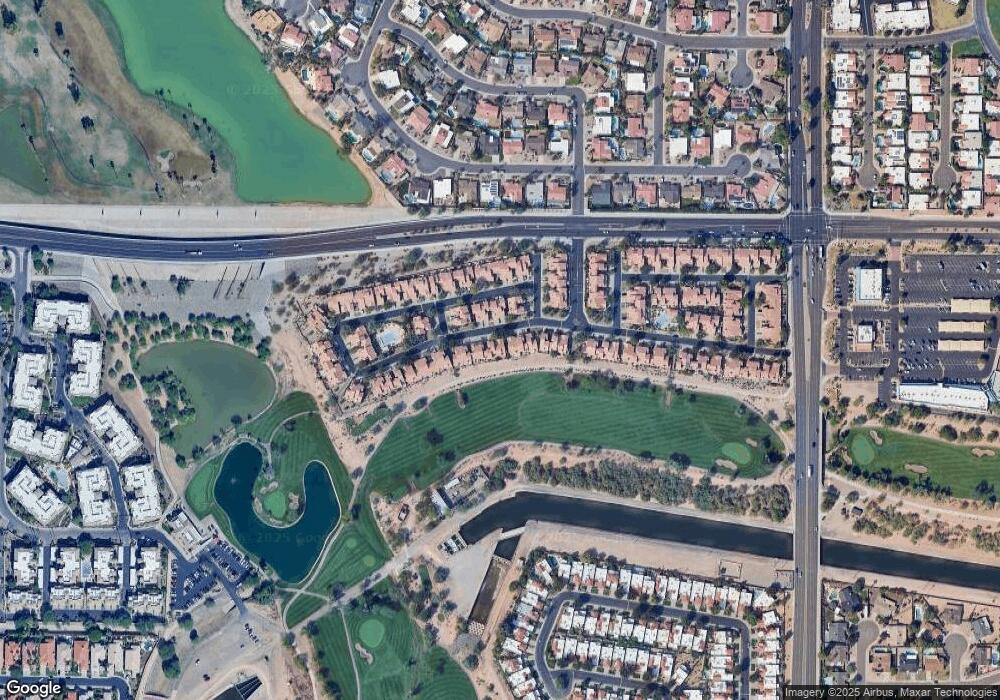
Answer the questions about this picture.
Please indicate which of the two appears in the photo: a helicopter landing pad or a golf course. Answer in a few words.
golf course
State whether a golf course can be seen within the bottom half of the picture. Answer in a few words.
Yes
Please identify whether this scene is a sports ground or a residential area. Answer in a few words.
residential area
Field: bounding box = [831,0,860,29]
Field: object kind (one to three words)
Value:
building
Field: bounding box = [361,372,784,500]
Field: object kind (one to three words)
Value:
golf course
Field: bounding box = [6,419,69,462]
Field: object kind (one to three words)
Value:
building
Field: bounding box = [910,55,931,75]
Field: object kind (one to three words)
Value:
house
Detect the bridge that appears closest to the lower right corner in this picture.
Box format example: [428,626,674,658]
[793,528,820,572]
